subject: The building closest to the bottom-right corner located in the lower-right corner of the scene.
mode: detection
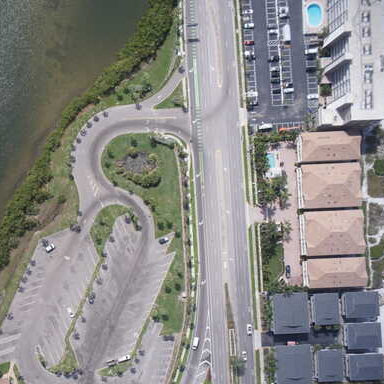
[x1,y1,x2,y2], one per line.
[341,352,383,381]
